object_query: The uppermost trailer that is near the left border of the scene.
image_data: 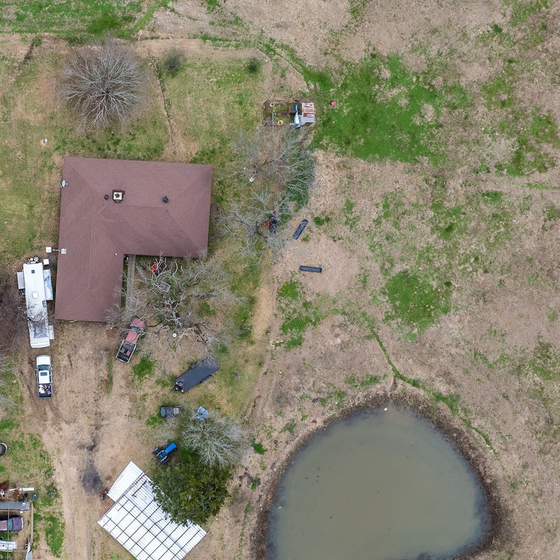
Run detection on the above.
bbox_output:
[17,257,56,348]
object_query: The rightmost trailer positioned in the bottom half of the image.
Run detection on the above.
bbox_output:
[173,356,219,394]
